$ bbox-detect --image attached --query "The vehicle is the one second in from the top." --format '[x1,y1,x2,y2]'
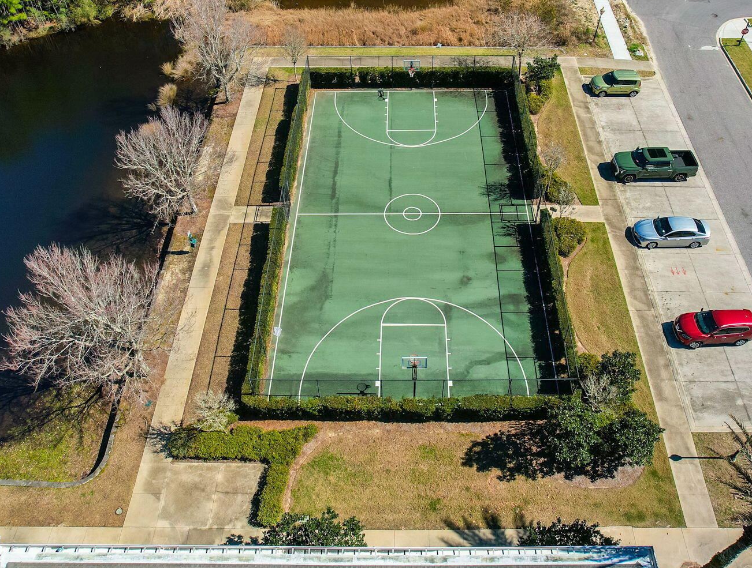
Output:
[612,150,703,187]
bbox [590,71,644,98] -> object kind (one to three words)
car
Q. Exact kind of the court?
basketball court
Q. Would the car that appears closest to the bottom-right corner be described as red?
Yes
